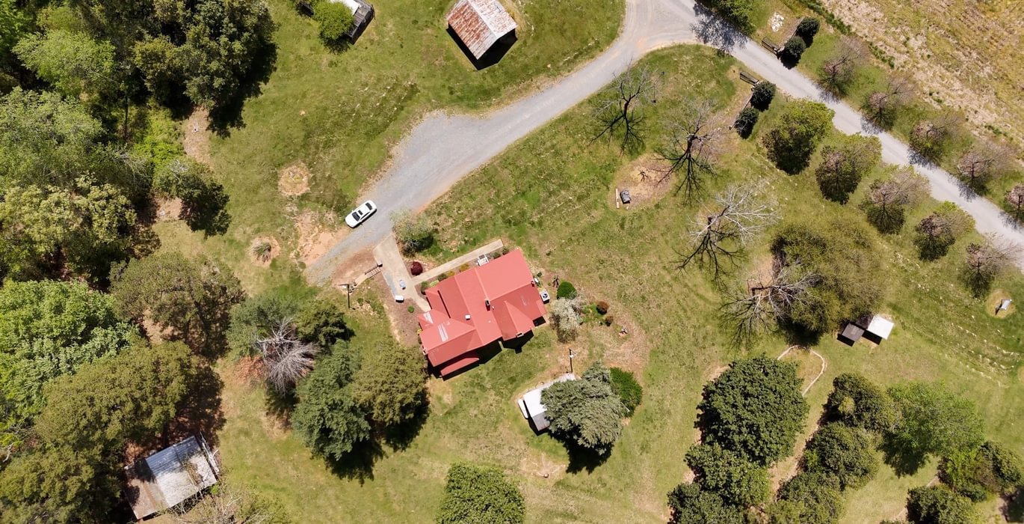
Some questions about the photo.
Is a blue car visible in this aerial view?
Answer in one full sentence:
No, there's no blue car here.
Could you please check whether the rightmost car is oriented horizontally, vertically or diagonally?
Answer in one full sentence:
Seen from above, the rightmost car lies diagonally.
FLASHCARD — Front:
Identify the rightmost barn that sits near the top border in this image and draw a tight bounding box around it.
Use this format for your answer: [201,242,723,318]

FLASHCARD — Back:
[444,0,516,60]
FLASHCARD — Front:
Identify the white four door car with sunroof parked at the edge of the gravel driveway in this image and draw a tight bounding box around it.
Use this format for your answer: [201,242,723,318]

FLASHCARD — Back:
[345,200,377,228]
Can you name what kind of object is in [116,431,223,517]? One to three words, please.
shed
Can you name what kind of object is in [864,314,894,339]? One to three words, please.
shed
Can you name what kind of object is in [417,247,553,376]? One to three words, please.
house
